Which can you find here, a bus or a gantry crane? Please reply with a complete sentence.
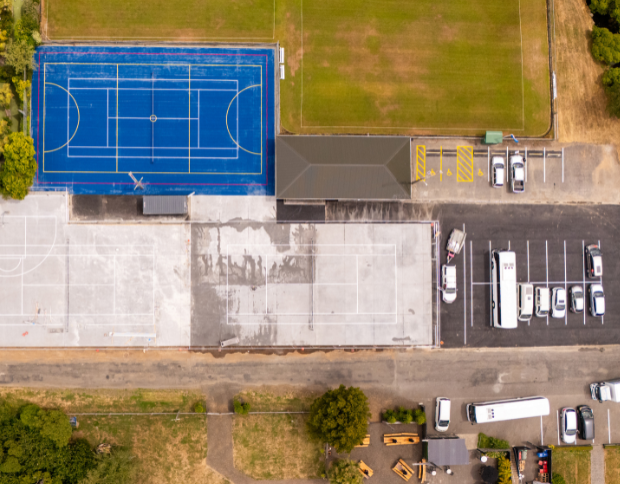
The one in the frame is a bus.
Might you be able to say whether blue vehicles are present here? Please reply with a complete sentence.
No, no blue vehicle is visible in the view.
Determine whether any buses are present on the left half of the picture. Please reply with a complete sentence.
No, the scene shows no bus on the left half of the picture.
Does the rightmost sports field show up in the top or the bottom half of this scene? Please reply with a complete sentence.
The rightmost sports field is in the top half of the image.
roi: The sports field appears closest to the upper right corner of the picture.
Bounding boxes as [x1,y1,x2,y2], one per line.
[277,0,550,136]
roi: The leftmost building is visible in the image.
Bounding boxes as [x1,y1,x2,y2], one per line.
[275,134,412,200]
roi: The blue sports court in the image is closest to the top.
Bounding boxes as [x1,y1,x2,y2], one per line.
[31,46,275,194]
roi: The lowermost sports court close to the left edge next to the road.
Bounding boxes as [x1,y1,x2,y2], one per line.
[0,190,190,348]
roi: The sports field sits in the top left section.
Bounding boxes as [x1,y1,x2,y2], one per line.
[42,0,277,43]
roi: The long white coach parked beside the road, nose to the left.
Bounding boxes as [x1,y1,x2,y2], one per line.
[467,395,550,428]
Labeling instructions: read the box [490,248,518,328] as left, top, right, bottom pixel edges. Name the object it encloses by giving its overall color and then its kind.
white bus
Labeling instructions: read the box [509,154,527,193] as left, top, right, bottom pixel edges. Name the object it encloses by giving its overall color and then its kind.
white vehicle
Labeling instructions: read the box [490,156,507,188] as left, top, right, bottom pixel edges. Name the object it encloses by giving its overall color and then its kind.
white car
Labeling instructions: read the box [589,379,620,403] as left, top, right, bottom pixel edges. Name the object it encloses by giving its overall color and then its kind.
white truck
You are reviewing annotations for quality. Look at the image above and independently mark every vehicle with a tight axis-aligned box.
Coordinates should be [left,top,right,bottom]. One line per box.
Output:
[584,244,602,279]
[490,248,518,328]
[490,156,507,188]
[568,285,585,313]
[559,406,578,442]
[441,264,459,302]
[467,395,550,428]
[509,154,527,193]
[435,396,452,431]
[549,287,567,317]
[575,404,595,440]
[516,283,535,320]
[534,287,551,317]
[589,379,620,403]
[587,283,605,317]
